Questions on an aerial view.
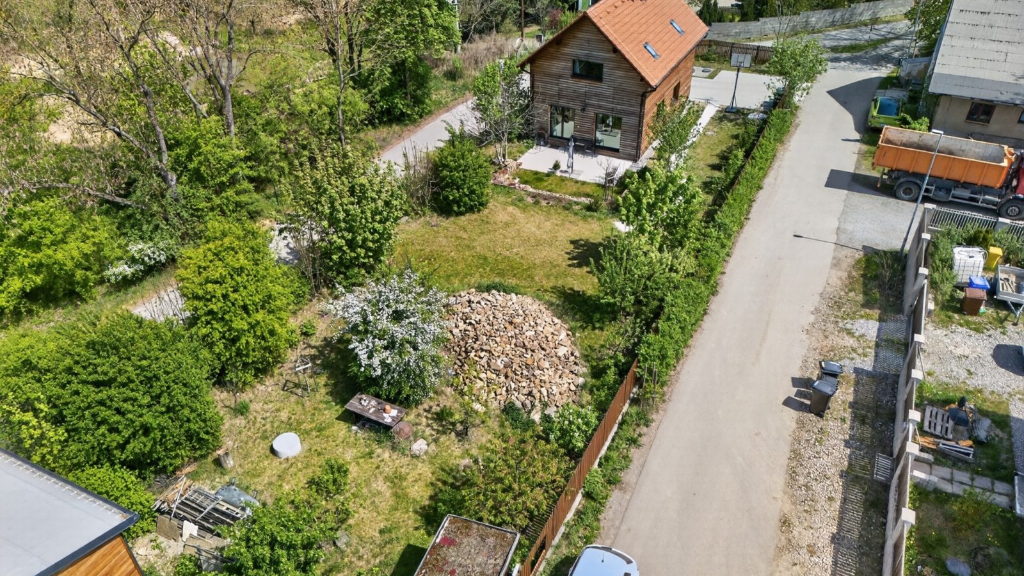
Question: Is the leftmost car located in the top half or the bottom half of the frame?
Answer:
bottom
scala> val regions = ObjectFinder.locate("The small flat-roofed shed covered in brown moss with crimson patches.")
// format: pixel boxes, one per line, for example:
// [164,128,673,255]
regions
[425,515,519,576]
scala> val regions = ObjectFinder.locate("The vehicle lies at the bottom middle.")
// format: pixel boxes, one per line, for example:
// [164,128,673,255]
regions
[567,539,642,576]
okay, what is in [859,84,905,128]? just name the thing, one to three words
car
